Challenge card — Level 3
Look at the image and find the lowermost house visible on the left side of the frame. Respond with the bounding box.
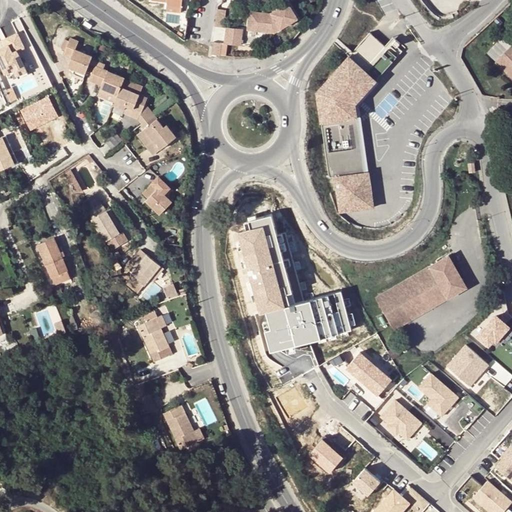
[162,406,204,450]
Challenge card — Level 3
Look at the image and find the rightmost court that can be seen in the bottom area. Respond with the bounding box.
[276,386,308,418]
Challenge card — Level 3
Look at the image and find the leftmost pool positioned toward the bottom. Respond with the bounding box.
[36,310,55,336]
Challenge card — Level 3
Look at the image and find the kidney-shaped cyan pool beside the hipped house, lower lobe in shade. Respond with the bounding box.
[165,162,184,181]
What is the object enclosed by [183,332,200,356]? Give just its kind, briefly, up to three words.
swimming pool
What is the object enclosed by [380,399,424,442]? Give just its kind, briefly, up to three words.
house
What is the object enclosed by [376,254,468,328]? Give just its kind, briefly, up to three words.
building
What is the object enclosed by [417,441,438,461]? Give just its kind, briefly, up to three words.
swimming pool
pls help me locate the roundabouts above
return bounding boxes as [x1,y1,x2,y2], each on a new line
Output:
[201,74,300,174]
